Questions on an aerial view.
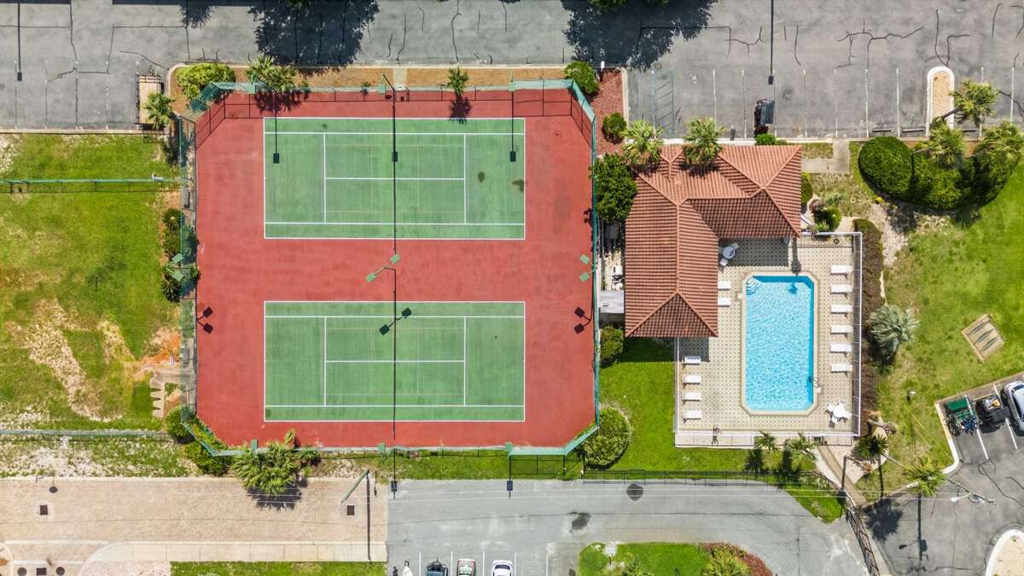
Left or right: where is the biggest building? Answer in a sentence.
It is on the right.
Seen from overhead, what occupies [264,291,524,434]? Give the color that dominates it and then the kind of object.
green tennis court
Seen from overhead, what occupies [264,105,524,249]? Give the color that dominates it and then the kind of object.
green tennis court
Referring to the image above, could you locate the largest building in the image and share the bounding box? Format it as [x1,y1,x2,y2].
[625,144,802,338]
